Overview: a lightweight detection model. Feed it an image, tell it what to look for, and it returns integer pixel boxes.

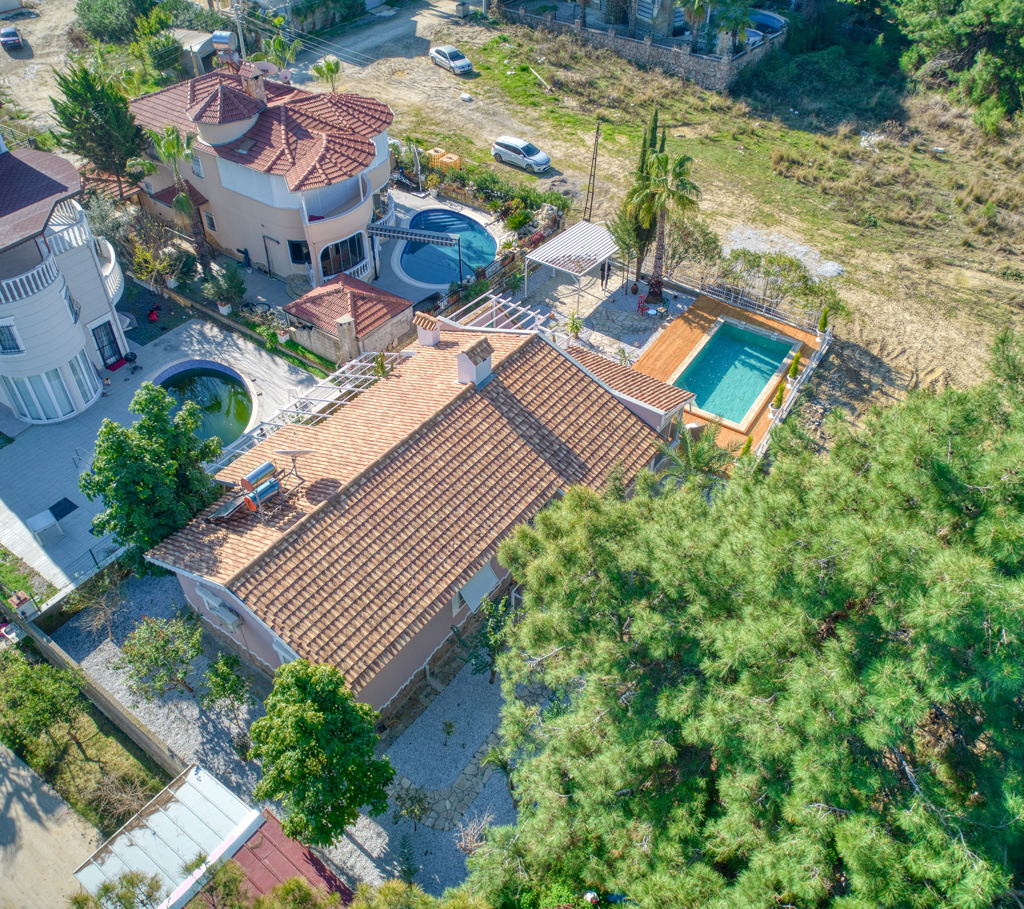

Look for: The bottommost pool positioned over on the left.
[83,355,263,470]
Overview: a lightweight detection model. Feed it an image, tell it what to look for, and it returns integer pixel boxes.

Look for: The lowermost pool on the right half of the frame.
[655,317,801,431]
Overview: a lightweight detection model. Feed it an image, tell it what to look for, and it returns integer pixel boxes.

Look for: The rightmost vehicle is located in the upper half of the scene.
[487,131,555,174]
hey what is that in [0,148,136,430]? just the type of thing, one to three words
house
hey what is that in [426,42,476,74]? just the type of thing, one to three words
car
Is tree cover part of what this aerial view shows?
Yes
